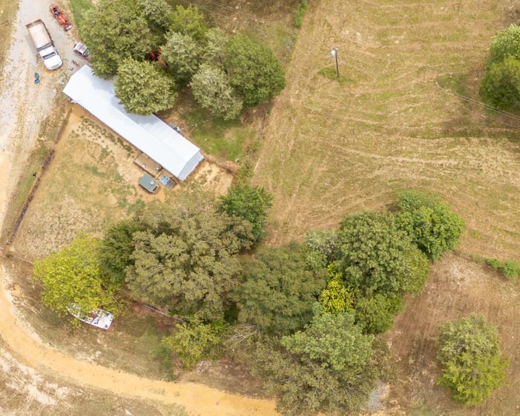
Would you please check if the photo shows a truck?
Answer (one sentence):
Yes, there's a truck down there.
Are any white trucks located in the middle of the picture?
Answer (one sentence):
No, I can find no white truck in the middle of the picture.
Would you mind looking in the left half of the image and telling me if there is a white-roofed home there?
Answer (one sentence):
Yes, there is a white-roofed home in the left half of the image.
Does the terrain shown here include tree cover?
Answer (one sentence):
Yes, some tree cover is visible.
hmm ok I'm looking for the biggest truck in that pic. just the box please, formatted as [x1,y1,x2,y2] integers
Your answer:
[24,17,64,75]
